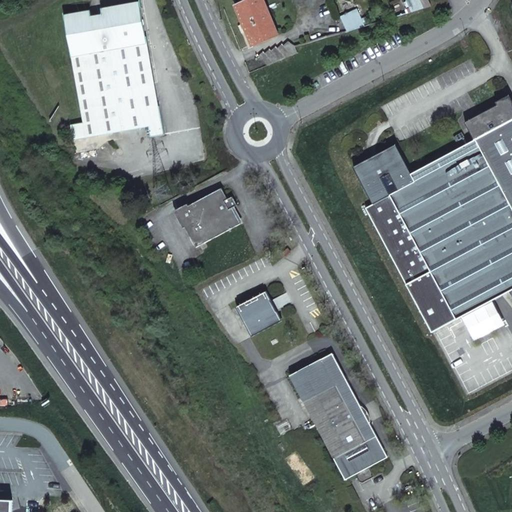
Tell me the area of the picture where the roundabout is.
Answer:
top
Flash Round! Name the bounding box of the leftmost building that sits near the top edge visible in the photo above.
[62,0,165,140]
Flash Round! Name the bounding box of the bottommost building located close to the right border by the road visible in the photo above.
[352,96,512,330]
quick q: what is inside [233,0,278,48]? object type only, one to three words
house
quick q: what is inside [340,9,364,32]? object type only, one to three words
shed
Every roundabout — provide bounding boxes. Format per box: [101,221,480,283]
[222,99,290,166]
